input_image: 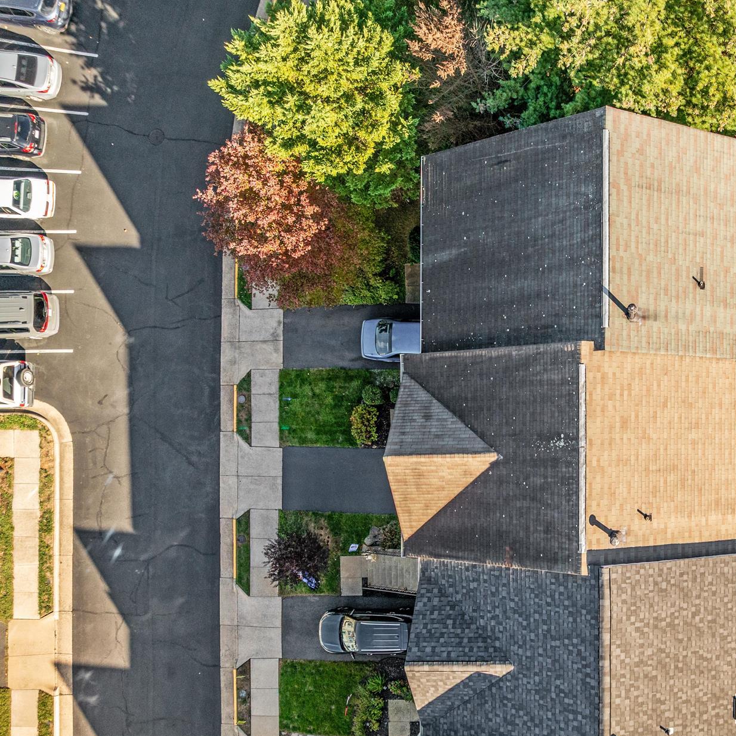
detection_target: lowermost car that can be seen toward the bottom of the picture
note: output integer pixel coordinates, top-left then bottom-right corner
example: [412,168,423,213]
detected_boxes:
[317,610,414,663]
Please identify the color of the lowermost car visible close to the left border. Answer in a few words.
white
